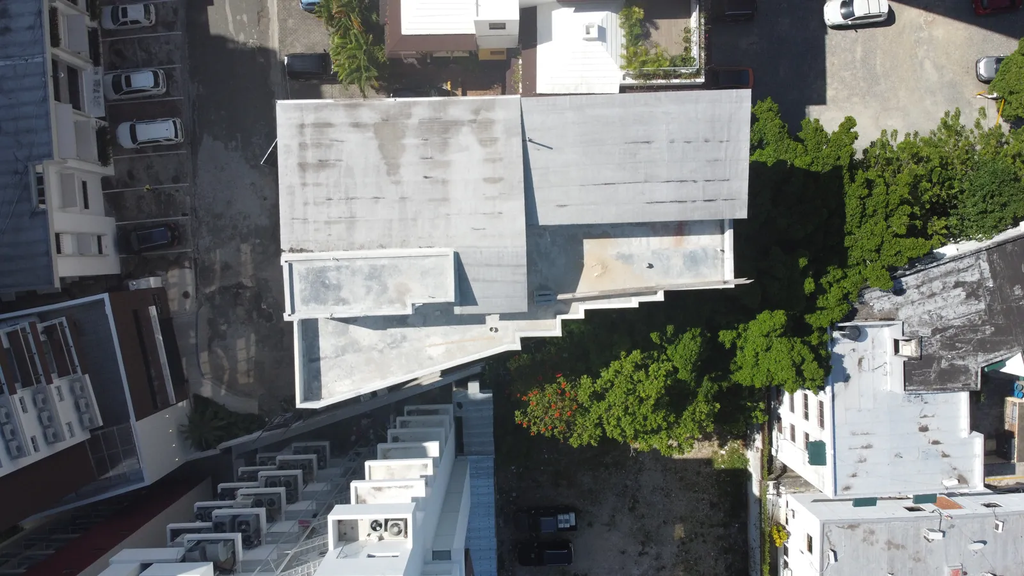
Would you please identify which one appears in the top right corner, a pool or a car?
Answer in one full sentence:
It is a car that can be seen in the top right corner.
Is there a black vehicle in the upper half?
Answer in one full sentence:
Yes, in the upper half there is a black vehicle.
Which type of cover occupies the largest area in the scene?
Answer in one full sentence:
For the most part, this view shows buildings.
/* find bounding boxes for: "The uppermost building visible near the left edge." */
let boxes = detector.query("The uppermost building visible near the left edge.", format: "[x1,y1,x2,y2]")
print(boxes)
[0,0,125,294]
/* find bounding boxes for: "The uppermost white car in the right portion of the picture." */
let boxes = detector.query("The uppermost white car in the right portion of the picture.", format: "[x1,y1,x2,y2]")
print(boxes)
[819,0,888,30]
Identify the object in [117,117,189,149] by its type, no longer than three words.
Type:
car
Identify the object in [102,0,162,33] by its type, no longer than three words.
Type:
car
